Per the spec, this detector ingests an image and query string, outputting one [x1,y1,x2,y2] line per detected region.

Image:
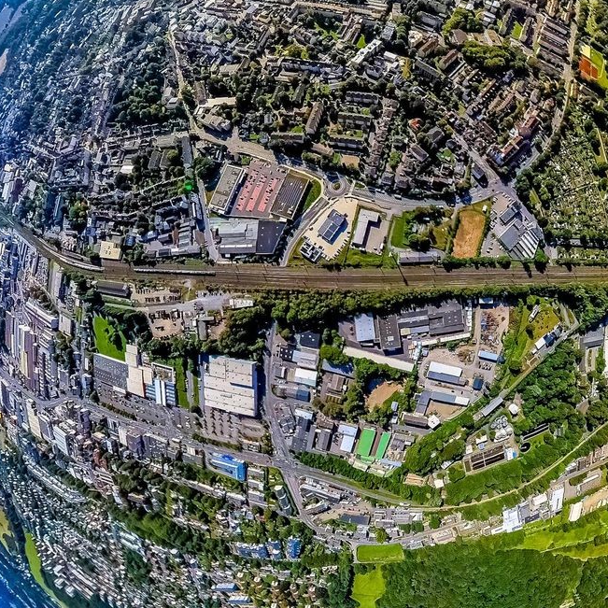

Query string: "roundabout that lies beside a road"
[321,172,352,200]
